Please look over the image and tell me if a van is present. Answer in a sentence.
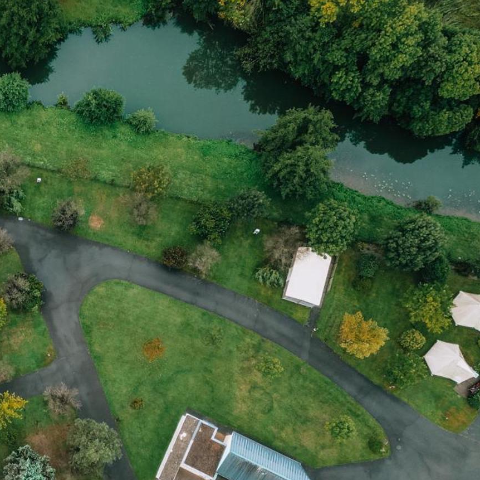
No, I can't see a single van in this photo.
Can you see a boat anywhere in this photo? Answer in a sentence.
No, I can see no boat in this picture.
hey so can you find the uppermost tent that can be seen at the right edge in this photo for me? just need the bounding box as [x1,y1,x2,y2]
[448,291,480,331]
